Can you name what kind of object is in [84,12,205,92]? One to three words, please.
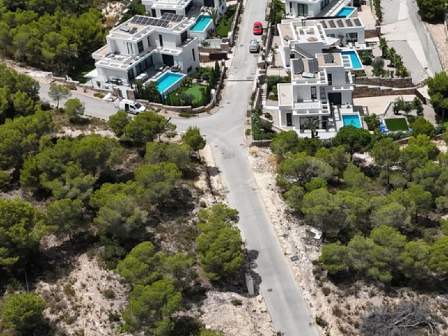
house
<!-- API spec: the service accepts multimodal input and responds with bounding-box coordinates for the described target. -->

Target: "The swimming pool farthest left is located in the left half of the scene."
[152,71,187,92]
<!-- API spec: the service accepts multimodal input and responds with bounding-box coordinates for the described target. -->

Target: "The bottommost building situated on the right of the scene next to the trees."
[278,53,354,134]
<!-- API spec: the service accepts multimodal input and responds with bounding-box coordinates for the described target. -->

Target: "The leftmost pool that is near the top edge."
[192,14,214,34]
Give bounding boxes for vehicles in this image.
[252,24,263,34]
[110,95,144,115]
[248,41,259,52]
